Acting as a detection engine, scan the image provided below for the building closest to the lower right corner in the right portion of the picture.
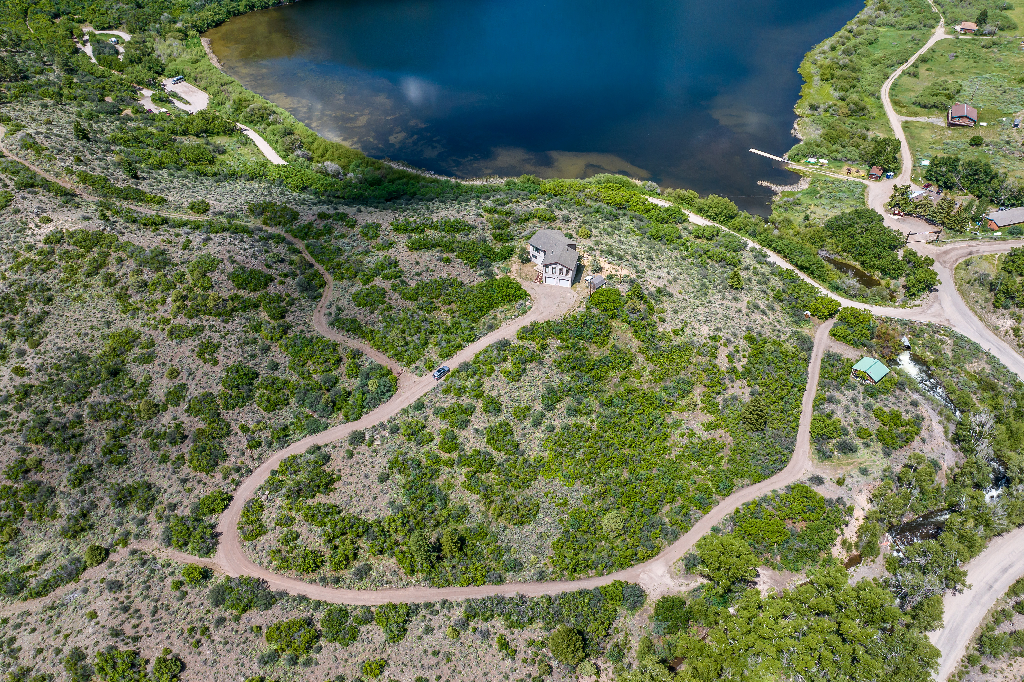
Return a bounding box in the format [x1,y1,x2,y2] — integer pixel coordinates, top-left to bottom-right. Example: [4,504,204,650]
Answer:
[850,359,893,388]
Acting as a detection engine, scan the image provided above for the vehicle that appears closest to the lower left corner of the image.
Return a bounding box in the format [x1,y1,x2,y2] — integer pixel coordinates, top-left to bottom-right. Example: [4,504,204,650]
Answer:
[431,364,453,379]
